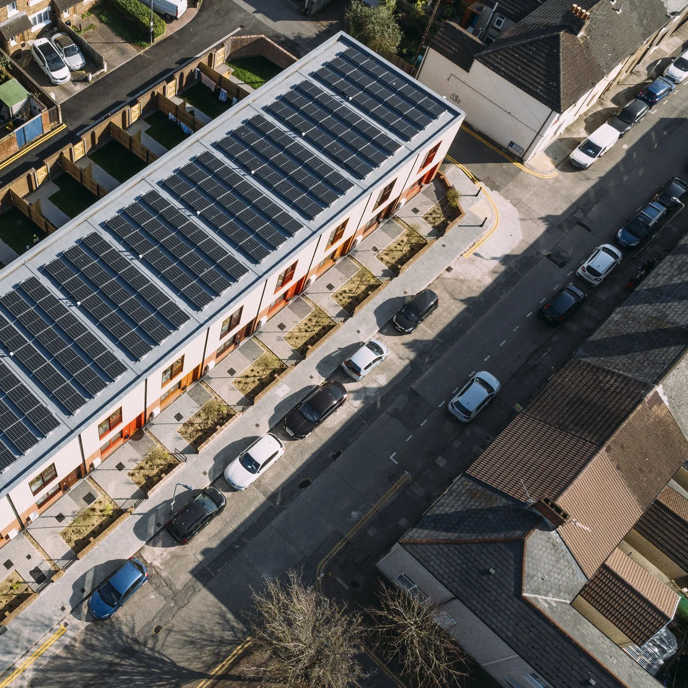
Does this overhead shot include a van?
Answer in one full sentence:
Yes, there's a van here.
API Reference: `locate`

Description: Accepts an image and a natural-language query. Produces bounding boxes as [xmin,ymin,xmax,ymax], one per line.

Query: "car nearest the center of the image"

[339,334,396,388]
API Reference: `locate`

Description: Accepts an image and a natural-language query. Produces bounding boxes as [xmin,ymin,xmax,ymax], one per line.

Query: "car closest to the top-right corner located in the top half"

[661,43,688,85]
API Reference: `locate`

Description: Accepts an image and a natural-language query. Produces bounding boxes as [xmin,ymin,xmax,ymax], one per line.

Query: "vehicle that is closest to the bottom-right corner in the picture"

[443,366,502,430]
